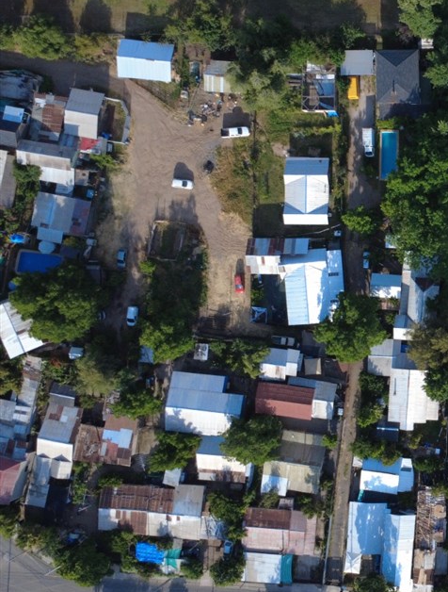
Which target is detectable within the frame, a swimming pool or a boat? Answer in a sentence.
There is a swimming pool in the scene.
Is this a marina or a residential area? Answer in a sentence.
The picture captures a residential area.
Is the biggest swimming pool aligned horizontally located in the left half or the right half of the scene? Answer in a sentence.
The biggest swimming pool aligned horizontally appears in the left half of the scene.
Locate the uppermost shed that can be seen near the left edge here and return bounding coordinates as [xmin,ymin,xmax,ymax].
[0,68,49,101]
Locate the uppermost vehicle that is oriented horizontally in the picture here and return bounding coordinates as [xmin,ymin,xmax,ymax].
[222,126,250,138]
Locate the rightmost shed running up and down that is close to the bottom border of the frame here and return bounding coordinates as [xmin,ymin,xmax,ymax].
[412,489,448,592]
